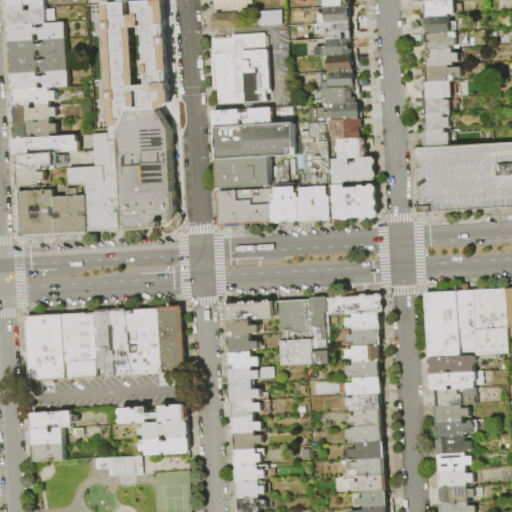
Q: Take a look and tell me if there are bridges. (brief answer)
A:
No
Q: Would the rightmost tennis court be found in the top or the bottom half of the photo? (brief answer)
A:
bottom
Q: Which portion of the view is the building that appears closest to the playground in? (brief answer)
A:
bottom left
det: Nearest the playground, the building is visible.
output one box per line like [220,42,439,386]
[96,456,144,478]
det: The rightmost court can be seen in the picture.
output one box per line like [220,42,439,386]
[156,471,192,512]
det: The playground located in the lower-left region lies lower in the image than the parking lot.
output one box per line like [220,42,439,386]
[84,486,120,512]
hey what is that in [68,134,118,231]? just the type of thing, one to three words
building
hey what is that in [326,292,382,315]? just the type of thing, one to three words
building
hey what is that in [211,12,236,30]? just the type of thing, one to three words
house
